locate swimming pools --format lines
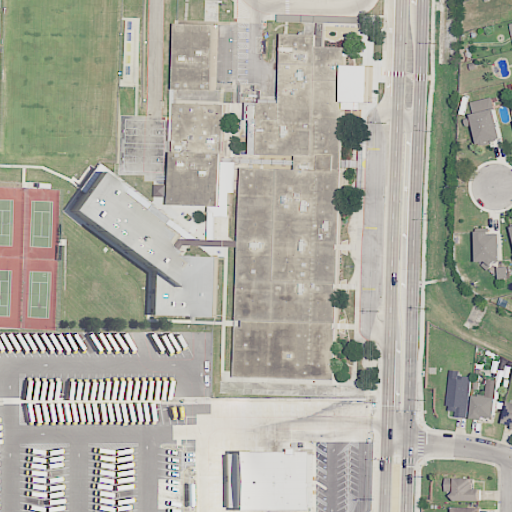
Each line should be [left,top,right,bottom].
[492,58,512,79]
[498,105,512,126]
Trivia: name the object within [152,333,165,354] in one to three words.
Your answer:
vehicle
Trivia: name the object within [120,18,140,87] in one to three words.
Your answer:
sports court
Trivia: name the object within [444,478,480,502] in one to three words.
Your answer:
house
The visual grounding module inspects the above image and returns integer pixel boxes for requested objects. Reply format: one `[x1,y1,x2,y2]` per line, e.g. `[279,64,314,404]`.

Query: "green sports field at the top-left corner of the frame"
[2,0,118,165]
